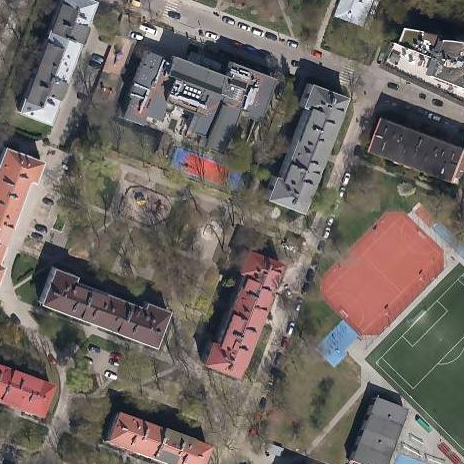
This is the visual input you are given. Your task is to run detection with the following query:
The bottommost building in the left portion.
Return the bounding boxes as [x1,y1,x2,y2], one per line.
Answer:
[107,411,216,464]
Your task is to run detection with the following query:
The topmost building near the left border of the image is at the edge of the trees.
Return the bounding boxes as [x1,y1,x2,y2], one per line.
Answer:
[21,0,101,124]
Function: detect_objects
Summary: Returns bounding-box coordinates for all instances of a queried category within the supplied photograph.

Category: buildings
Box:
[335,0,375,27]
[124,49,279,152]
[354,396,410,464]
[269,84,352,215]
[21,0,101,124]
[206,250,288,381]
[0,364,59,418]
[370,117,464,184]
[0,147,49,288]
[40,265,175,350]
[387,28,464,97]
[107,411,216,464]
